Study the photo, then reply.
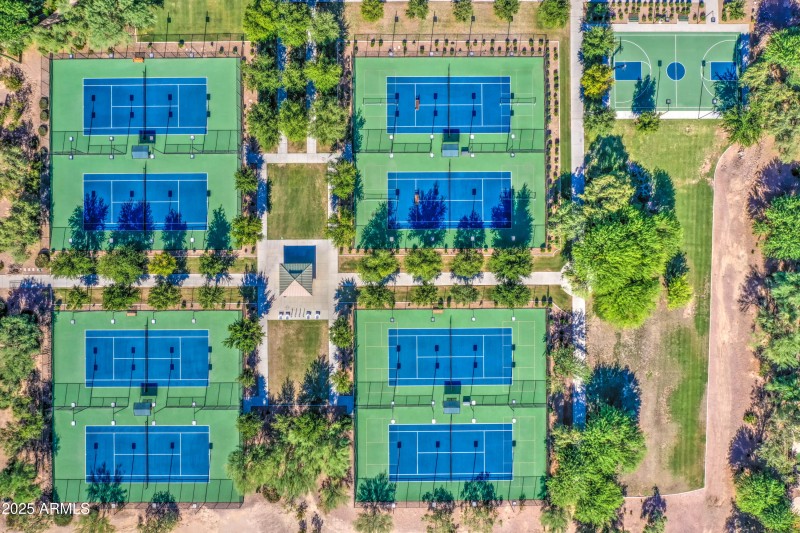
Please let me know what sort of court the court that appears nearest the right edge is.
basketball court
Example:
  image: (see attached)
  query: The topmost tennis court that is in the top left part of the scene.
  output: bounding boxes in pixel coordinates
[51,57,241,155]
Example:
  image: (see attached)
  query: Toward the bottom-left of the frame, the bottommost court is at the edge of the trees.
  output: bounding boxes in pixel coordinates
[53,406,243,504]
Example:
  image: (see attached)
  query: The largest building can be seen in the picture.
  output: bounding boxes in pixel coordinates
[278,263,312,297]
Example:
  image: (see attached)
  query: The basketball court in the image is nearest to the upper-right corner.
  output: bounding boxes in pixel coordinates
[609,23,748,120]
